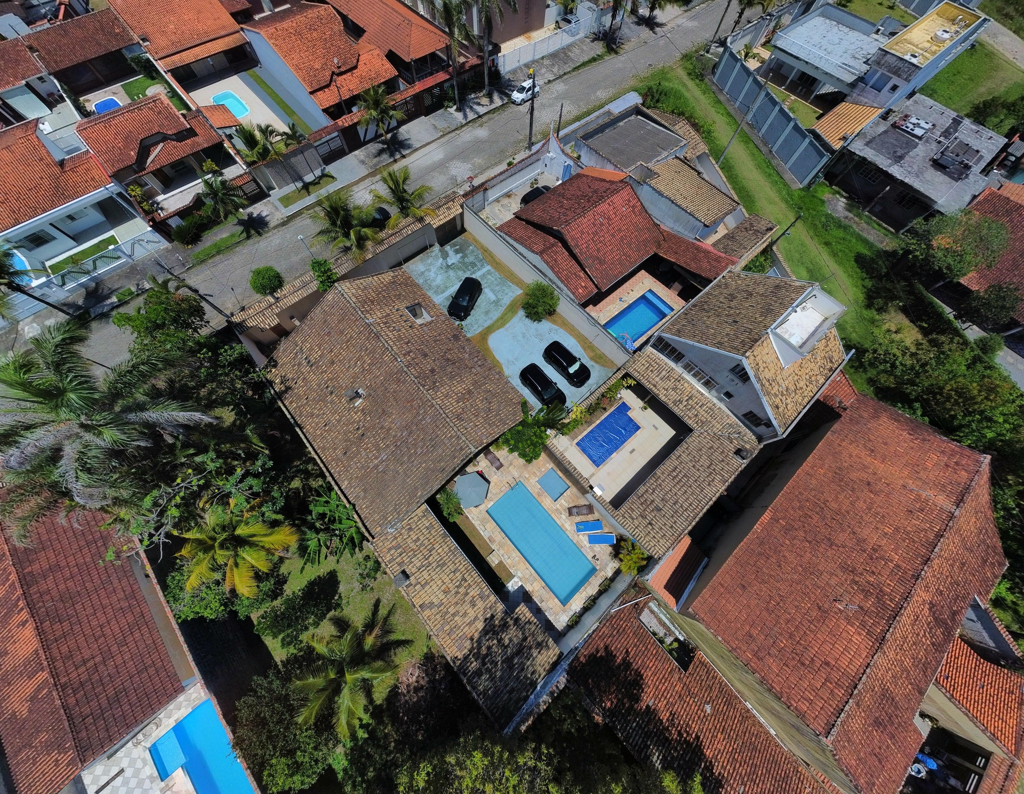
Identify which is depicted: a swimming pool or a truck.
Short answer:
swimming pool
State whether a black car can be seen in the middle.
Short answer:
Yes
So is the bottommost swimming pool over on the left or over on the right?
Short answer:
left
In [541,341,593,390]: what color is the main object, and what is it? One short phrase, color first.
black car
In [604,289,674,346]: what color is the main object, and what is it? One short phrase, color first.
blue swimming pool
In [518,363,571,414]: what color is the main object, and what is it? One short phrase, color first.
black car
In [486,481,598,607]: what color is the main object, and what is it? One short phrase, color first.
blue swimming pool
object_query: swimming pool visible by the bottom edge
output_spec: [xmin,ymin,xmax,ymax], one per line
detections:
[148,699,254,794]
